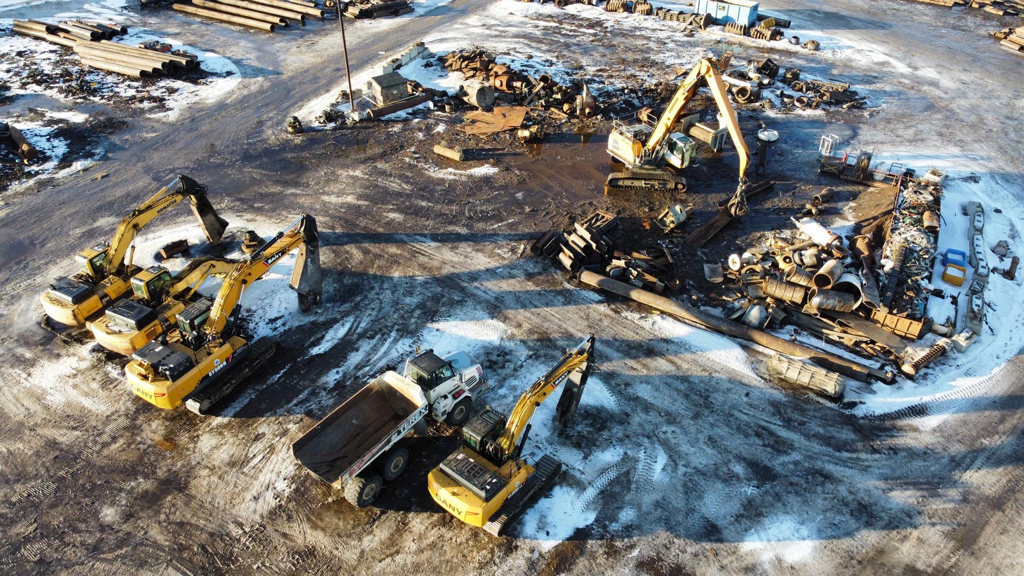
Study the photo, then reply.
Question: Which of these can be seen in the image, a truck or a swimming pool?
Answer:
truck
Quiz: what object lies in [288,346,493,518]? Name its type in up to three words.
truck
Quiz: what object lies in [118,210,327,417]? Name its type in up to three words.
work vehicle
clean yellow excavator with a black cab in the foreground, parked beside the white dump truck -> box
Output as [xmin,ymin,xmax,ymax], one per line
[426,327,608,542]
